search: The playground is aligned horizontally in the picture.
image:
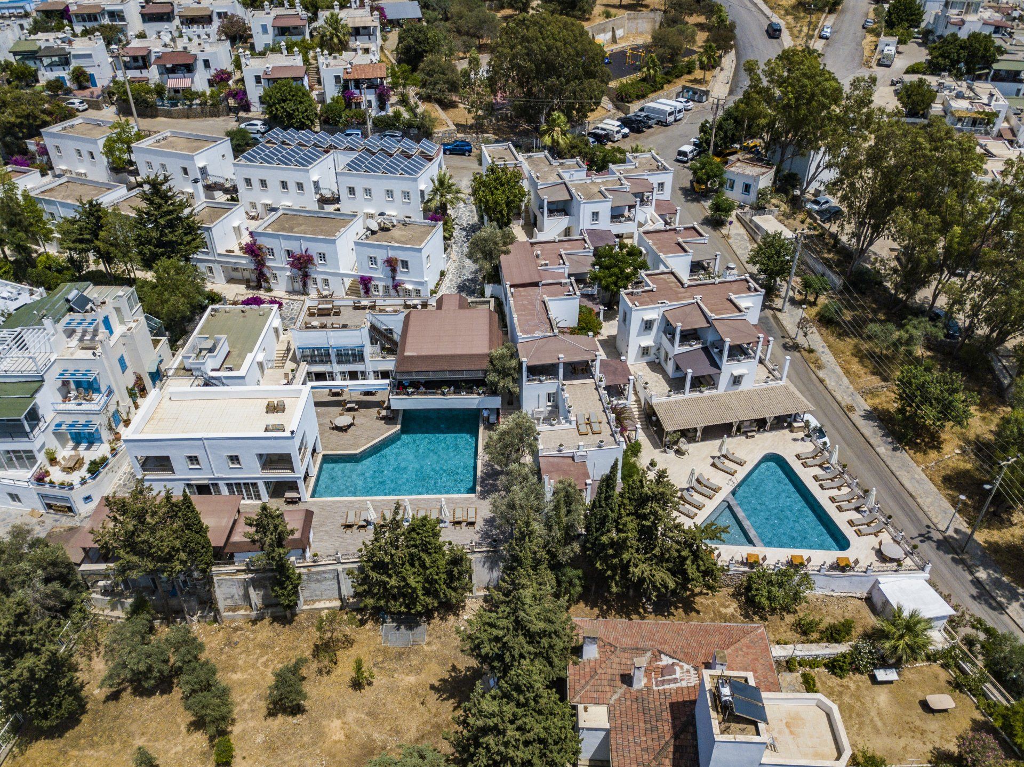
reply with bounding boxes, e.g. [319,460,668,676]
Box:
[604,47,701,84]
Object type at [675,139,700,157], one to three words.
car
